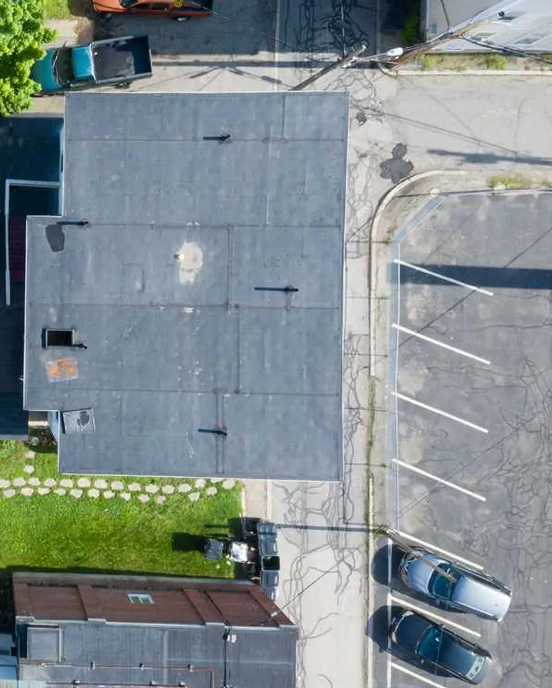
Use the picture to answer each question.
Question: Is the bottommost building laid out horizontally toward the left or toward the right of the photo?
left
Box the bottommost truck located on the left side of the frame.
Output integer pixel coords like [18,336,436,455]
[31,38,152,95]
